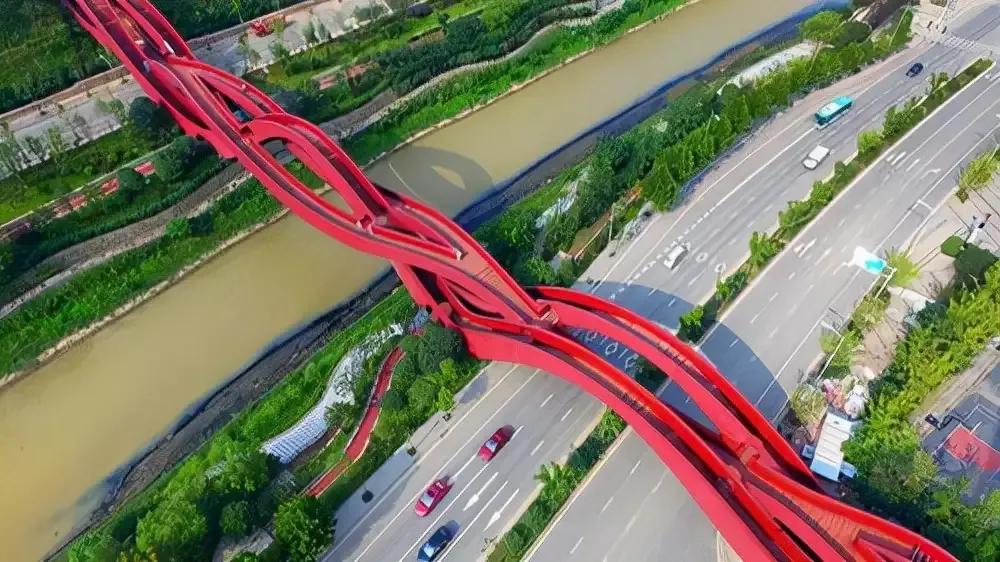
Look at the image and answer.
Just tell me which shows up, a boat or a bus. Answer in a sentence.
There is a bus in the scene.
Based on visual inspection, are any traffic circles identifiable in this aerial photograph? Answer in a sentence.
No, I can't see a single traffic circle in this photo.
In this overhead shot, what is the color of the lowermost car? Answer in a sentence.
The lowermost car looks blue in the image.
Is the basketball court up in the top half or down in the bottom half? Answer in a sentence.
Seen from above, the basketball court lies in the bottom half of the view.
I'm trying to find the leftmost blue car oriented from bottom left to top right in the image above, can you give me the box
[414,518,457,562]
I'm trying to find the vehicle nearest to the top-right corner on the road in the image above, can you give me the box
[903,61,927,78]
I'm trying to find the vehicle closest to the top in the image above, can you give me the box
[247,12,273,36]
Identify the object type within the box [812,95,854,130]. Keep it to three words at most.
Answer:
bus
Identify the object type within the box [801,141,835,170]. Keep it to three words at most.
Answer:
van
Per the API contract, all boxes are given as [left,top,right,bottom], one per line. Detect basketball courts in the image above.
[915,371,1000,490]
